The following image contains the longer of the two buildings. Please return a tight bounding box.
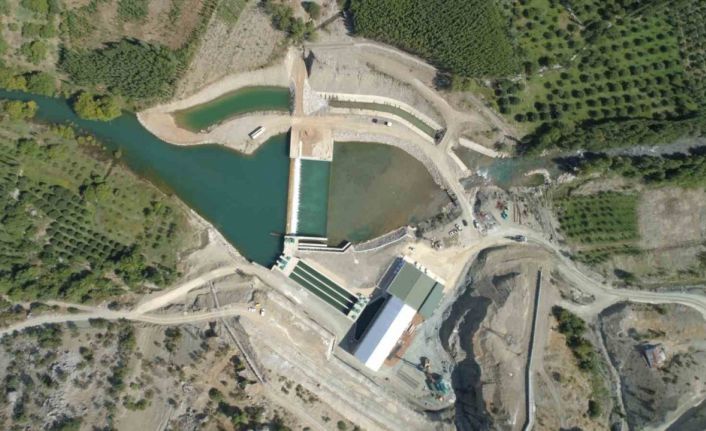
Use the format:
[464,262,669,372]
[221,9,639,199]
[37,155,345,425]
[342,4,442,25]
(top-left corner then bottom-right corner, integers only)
[354,254,446,372]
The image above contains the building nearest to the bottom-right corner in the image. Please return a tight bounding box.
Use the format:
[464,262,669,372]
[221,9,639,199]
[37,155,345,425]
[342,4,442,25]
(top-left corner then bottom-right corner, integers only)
[645,343,665,368]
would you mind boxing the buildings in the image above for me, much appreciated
[354,254,446,372]
[645,343,665,368]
